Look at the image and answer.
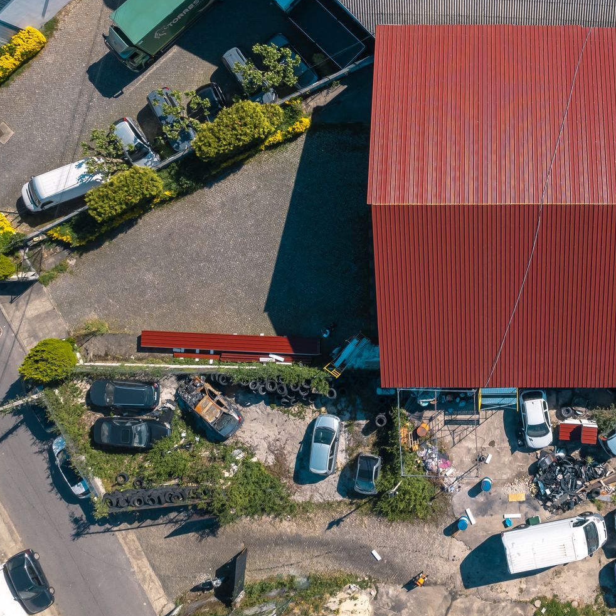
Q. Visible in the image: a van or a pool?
van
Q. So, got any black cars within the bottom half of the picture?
Yes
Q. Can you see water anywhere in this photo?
No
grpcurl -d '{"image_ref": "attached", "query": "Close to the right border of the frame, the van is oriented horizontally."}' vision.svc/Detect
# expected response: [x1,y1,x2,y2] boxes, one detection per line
[508,510,608,568]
